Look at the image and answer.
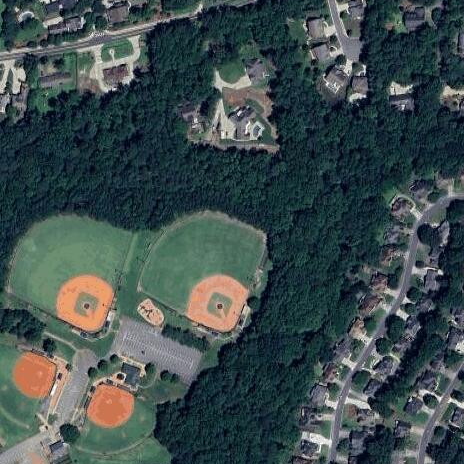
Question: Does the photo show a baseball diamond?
Yes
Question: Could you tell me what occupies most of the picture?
trees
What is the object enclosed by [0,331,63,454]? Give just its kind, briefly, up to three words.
baseball field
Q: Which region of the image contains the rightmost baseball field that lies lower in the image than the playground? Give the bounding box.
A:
[75,376,154,455]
